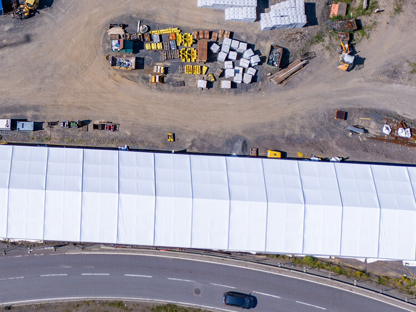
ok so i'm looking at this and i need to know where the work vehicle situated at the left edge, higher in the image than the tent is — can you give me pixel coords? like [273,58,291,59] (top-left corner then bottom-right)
[10,0,44,24]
